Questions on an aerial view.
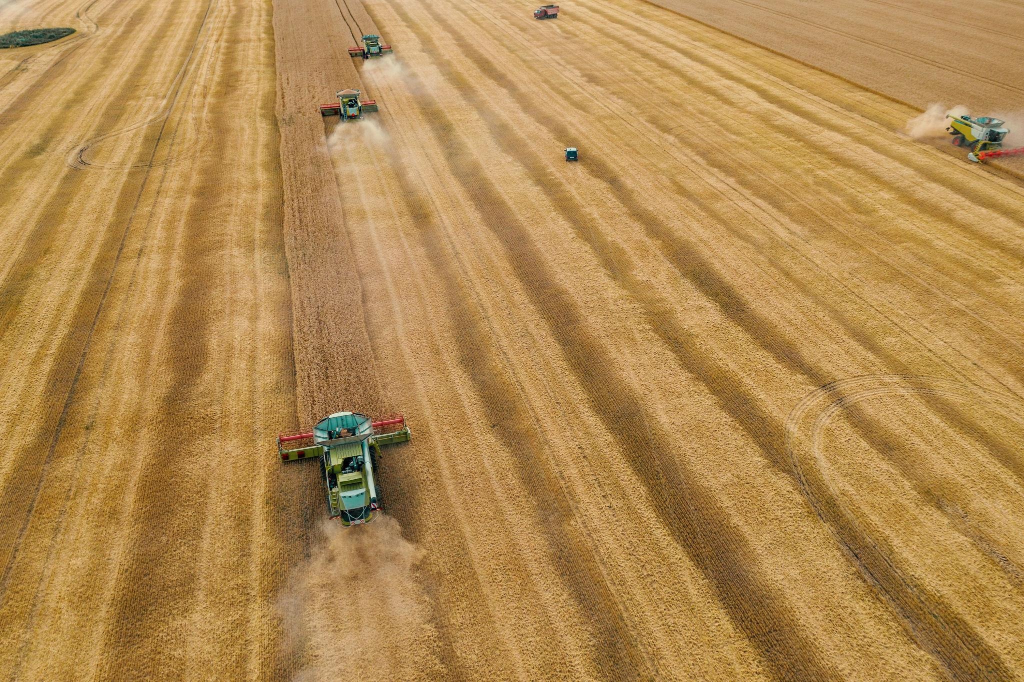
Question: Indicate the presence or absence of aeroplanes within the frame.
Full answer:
No, no aeroplane is visible in the view.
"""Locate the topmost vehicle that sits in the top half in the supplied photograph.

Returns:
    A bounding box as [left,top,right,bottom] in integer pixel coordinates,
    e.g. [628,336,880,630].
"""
[534,3,561,19]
